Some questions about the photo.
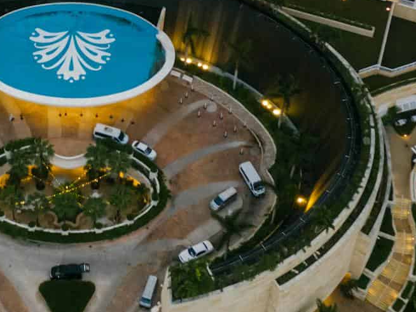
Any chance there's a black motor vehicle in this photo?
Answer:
Yes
